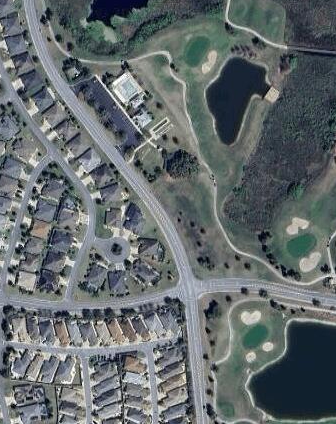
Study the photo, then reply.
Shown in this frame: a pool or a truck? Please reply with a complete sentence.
Visible in the photo is a pool.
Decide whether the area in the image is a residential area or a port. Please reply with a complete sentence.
The picture captures a residential area.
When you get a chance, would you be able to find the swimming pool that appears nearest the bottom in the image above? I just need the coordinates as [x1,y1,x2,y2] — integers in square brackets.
[114,72,145,105]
